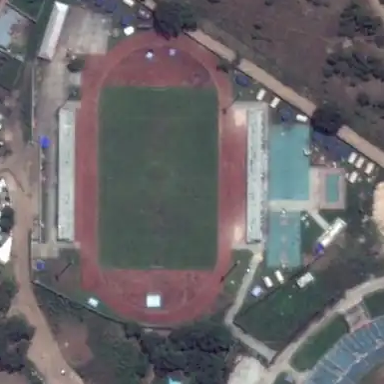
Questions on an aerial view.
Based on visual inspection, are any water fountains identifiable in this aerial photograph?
No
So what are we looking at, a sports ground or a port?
sports ground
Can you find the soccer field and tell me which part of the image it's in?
center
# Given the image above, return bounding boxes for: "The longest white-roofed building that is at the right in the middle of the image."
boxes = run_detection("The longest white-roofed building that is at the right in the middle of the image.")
[318,218,347,246]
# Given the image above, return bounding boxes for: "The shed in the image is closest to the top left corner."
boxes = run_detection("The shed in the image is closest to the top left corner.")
[0,9,15,45]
